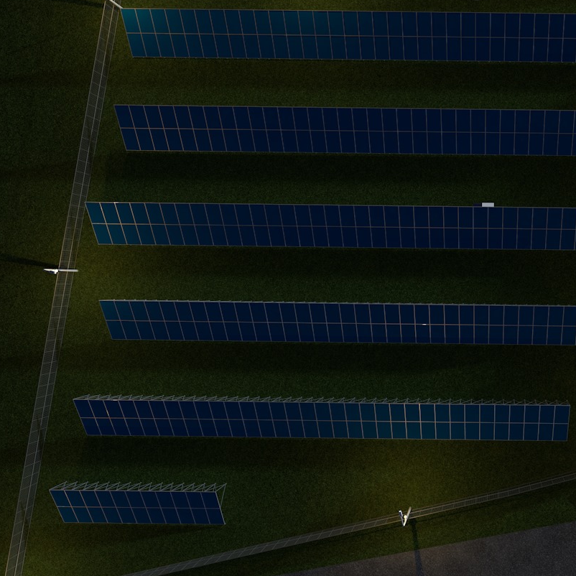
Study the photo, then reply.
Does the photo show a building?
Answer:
No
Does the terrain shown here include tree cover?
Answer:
No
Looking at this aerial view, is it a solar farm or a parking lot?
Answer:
solar farm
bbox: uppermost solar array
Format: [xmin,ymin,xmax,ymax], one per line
[122,9,576,62]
